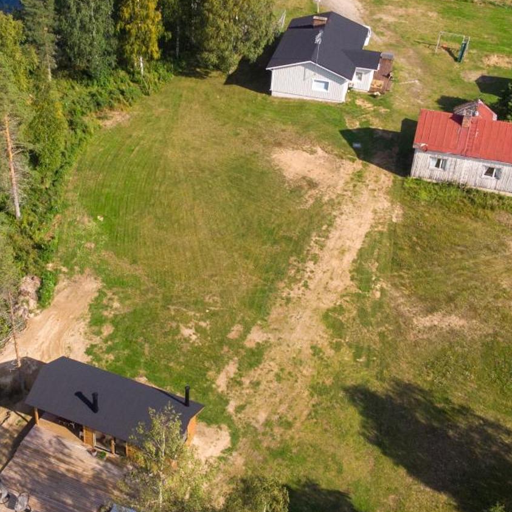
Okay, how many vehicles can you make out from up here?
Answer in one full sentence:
The picture shows no vehicles.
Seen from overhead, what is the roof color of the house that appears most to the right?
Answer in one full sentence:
The color of the roof on the house that appears most to the right is red.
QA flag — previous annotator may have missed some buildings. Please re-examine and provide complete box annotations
[411,97,512,194]
[266,11,383,103]
[24,356,208,480]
